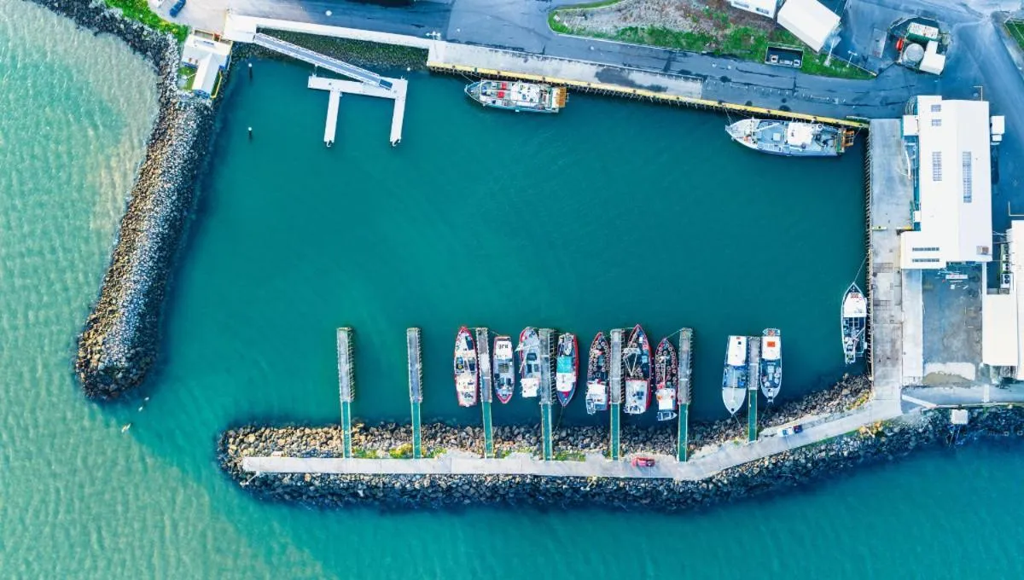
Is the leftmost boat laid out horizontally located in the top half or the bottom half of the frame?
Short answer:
top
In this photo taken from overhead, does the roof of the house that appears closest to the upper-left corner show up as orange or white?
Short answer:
white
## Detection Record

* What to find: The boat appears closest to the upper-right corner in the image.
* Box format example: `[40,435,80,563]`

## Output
[726,117,855,157]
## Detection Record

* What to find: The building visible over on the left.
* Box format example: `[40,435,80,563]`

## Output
[182,35,236,98]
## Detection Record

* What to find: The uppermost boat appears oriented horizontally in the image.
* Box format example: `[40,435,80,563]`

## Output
[464,79,569,115]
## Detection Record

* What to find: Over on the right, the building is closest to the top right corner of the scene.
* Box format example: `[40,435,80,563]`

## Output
[913,40,945,80]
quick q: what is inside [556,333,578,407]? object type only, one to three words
boat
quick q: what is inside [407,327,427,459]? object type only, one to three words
pier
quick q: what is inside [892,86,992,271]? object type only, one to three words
building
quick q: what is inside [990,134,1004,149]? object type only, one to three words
vehicle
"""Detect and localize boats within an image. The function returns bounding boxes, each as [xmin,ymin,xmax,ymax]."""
[759,336,782,402]
[516,327,540,397]
[556,333,578,407]
[723,336,747,416]
[587,333,609,411]
[623,325,654,414]
[763,329,781,336]
[657,412,677,421]
[840,282,868,356]
[726,117,855,157]
[454,326,478,407]
[464,79,569,115]
[656,339,677,411]
[493,336,515,404]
